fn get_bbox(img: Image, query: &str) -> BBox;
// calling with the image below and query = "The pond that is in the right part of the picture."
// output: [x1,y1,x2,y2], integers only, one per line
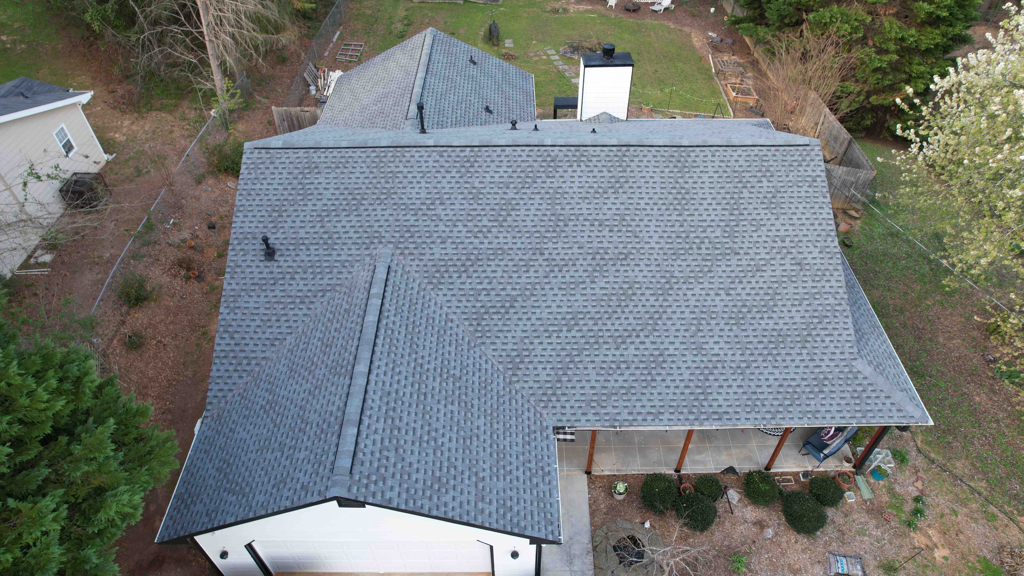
[593,515,667,576]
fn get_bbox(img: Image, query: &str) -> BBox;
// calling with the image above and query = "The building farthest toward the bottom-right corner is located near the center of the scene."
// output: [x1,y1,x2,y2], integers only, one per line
[154,27,932,576]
